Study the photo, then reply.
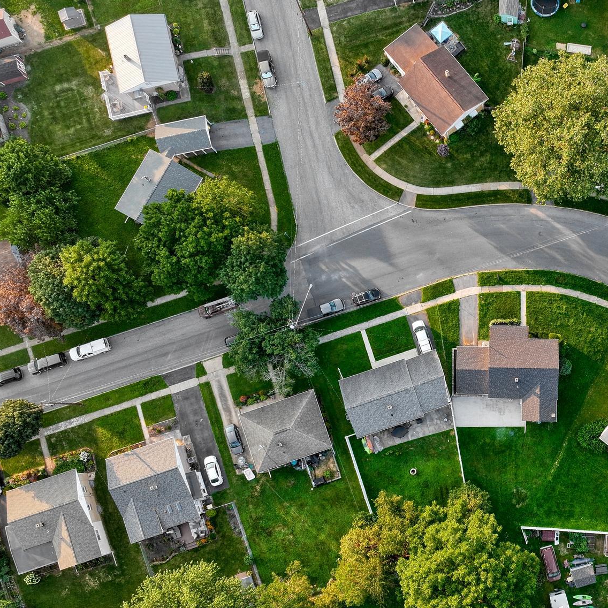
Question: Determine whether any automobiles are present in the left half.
Yes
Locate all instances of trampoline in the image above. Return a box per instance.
[530,0,560,18]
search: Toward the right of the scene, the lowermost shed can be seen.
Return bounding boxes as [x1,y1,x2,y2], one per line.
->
[571,562,596,588]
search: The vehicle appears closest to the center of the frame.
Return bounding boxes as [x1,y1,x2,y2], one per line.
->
[305,298,345,320]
